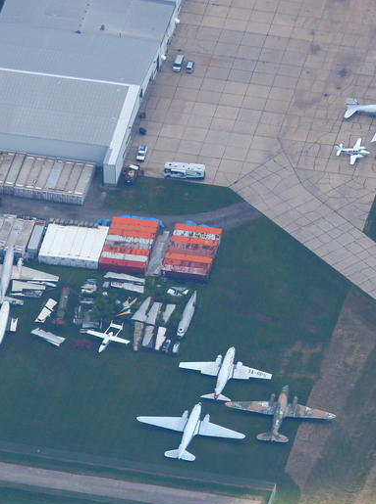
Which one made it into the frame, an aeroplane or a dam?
aeroplane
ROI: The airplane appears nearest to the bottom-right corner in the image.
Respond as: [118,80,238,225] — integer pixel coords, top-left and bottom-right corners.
[224,386,337,442]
